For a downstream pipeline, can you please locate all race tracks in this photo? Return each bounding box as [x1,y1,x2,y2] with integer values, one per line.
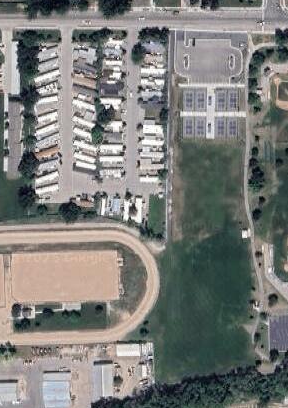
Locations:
[0,231,159,343]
